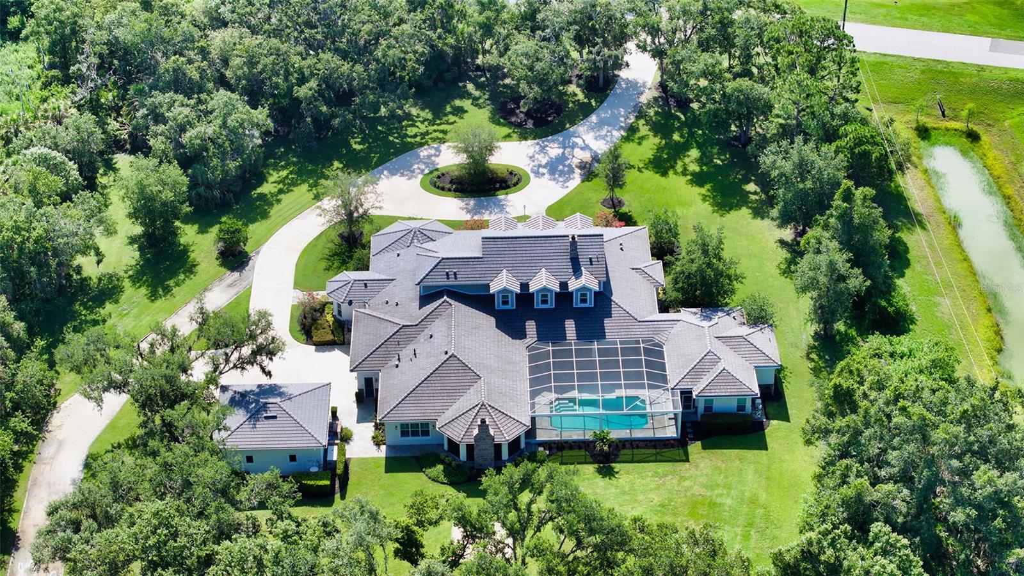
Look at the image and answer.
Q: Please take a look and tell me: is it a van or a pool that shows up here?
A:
pool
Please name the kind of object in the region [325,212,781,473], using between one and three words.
house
